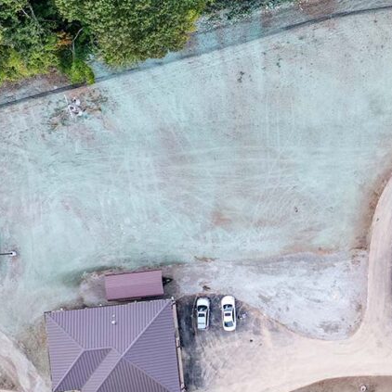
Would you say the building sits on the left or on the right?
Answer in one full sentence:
The building is on the left side of the image.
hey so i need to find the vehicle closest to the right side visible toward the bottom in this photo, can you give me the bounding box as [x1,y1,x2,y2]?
[220,297,235,332]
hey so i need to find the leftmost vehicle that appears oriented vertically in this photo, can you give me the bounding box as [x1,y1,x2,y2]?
[194,298,209,332]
